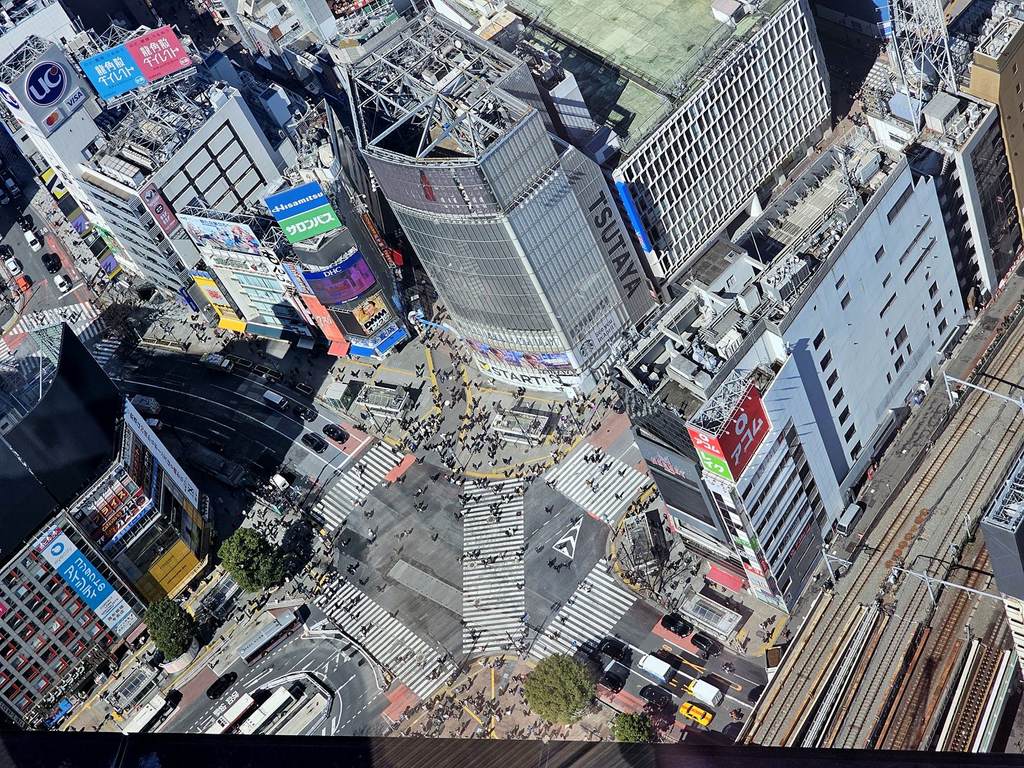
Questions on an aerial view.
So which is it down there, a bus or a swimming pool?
bus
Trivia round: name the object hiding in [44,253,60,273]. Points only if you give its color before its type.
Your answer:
black car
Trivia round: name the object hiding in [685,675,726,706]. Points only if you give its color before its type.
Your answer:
white truck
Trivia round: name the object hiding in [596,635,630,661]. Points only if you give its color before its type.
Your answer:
black car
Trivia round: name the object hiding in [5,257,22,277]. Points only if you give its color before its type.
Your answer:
white car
